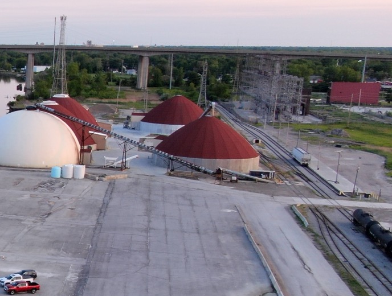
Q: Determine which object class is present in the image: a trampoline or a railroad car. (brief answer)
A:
railroad car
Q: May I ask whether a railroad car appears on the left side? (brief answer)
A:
No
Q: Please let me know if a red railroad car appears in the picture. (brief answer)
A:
No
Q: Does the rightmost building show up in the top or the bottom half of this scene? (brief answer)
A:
top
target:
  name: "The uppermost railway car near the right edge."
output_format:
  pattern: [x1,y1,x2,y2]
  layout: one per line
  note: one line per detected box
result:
[355,209,386,239]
